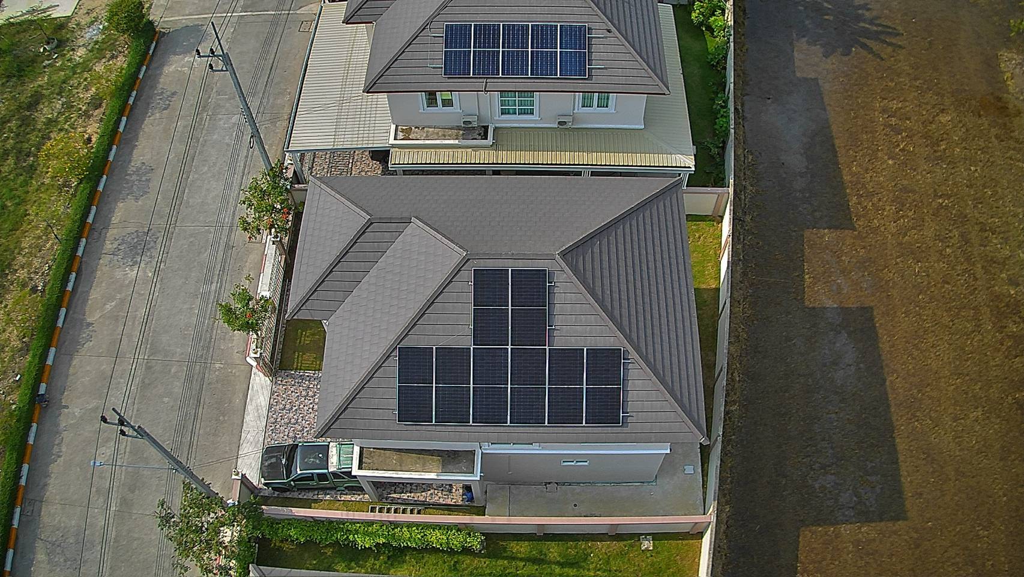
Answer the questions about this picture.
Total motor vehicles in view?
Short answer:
1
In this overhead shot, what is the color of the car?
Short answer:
black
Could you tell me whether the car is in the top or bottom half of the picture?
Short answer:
bottom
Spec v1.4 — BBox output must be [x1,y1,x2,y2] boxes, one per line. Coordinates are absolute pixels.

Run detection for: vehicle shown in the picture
[257,436,384,493]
